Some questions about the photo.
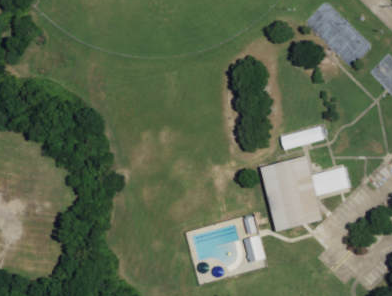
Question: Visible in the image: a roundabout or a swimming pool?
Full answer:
Of the two, only a swimming pool appears.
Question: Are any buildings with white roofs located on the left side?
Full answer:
No, no building with a white roof appears on the left side.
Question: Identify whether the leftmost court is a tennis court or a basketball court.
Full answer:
From above, the leftmost court can be identified as a basketball court.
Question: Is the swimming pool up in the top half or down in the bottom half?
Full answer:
The swimming pool sits in the bottom half of the picture.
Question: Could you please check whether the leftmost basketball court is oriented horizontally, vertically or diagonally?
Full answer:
The leftmost basketball court is oriented diagonally.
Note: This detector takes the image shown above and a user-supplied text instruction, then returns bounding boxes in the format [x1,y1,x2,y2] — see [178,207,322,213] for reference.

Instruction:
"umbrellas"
[212,266,223,278]
[197,263,208,274]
